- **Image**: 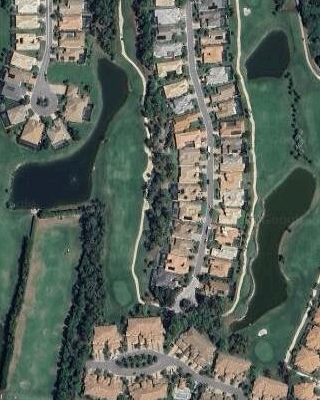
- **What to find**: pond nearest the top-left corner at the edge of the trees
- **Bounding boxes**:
[10,58,128,210]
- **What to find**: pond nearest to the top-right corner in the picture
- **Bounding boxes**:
[246,30,290,79]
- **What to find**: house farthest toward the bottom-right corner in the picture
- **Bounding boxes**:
[295,382,315,400]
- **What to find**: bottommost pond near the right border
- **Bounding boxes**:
[231,168,316,331]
